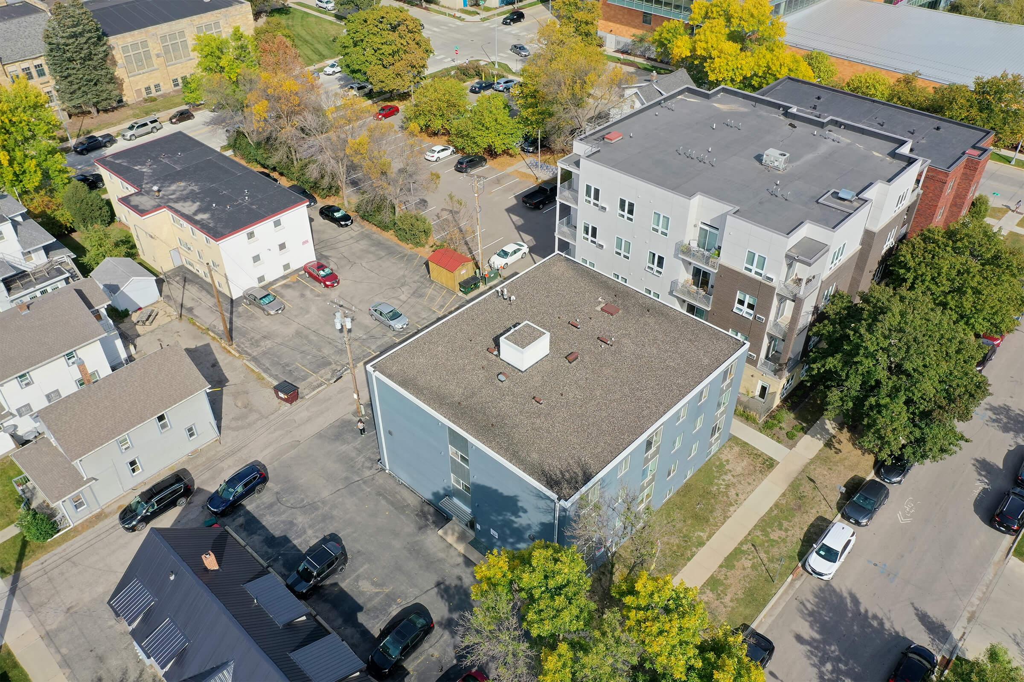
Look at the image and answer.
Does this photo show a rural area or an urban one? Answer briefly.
urban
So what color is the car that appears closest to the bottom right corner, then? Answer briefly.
black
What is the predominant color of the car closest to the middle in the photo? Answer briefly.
white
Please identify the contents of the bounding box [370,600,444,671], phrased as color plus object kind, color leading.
black car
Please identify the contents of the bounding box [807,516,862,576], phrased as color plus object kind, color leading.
white car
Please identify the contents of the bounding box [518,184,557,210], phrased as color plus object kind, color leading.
black truck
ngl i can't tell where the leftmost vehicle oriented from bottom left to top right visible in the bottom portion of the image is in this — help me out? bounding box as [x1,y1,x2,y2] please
[127,460,206,524]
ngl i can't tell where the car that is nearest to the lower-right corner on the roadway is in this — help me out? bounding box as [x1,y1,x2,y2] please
[892,647,942,682]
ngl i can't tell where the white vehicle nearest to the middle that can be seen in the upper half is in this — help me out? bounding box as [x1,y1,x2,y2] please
[492,239,533,266]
